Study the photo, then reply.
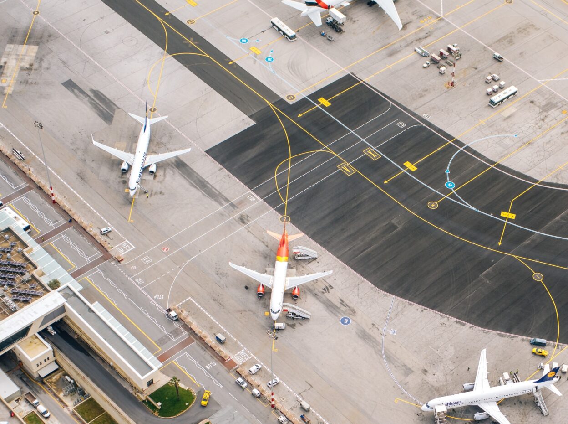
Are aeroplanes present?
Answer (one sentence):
Yes, the image includes an aeroplane.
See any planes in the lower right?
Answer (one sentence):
Yes, you'll find a plane in the lower right.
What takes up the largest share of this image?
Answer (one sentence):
The scene is dominated by paved ground.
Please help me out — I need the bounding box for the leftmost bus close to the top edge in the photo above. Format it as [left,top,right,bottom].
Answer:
[270,18,298,41]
